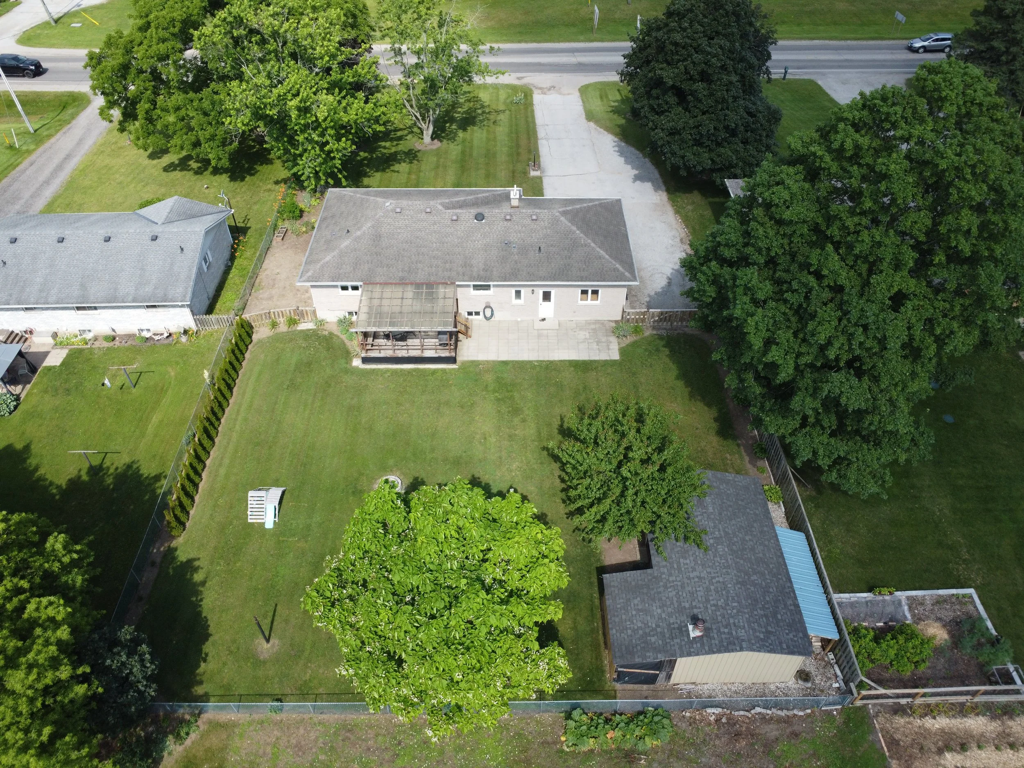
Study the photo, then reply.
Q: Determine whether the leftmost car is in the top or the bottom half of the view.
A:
top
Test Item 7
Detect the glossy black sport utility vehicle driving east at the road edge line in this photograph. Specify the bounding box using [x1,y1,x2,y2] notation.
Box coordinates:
[0,51,39,78]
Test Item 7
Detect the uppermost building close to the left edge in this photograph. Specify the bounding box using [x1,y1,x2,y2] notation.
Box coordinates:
[0,193,239,330]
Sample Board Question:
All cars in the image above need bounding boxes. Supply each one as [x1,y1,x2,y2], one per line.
[906,27,961,51]
[0,51,39,78]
